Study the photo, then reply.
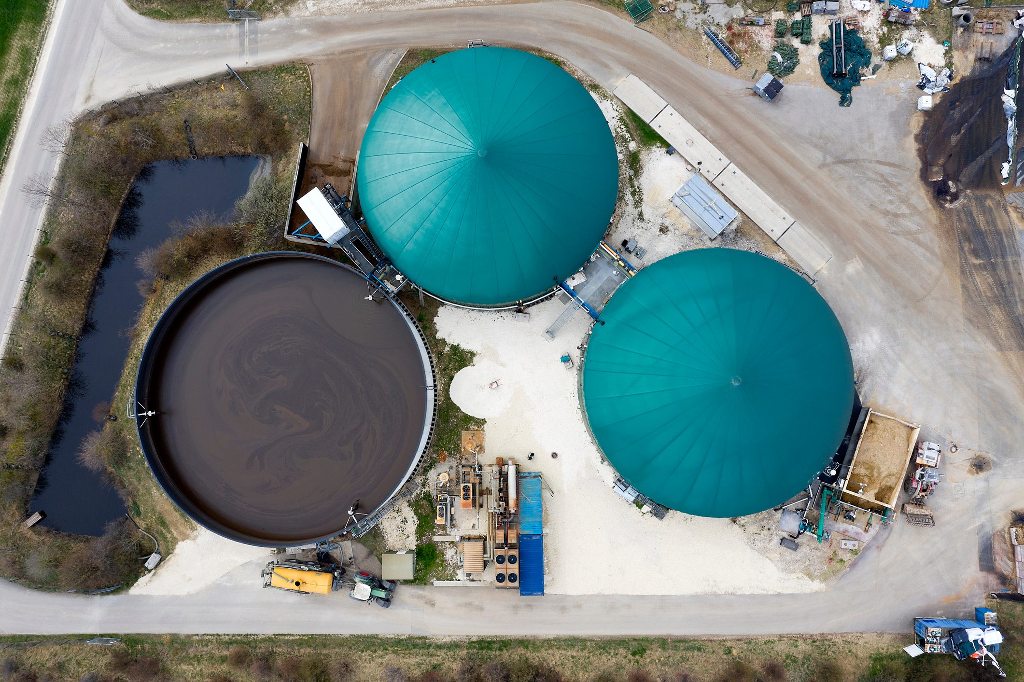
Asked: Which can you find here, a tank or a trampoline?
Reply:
tank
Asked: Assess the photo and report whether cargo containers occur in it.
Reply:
Yes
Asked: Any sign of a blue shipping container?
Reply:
Yes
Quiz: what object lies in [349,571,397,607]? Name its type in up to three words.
work vehicle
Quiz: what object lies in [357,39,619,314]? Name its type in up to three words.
storage tank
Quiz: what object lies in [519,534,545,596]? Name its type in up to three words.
shipping container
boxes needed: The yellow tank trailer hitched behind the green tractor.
[260,556,355,596]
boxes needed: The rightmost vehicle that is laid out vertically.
[902,439,946,522]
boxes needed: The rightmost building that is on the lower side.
[457,536,489,573]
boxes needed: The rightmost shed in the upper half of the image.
[671,173,738,237]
